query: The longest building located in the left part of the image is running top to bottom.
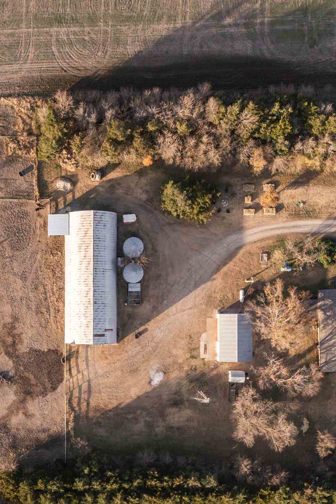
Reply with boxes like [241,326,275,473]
[65,209,117,345]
